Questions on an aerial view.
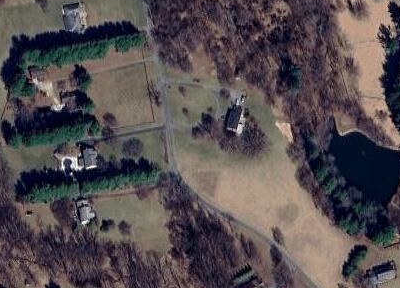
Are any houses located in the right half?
Yes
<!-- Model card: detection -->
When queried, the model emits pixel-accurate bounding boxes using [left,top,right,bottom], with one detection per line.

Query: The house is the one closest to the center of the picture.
[225,100,244,129]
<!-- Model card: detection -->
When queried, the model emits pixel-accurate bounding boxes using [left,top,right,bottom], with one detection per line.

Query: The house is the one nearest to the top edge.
[62,4,83,28]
